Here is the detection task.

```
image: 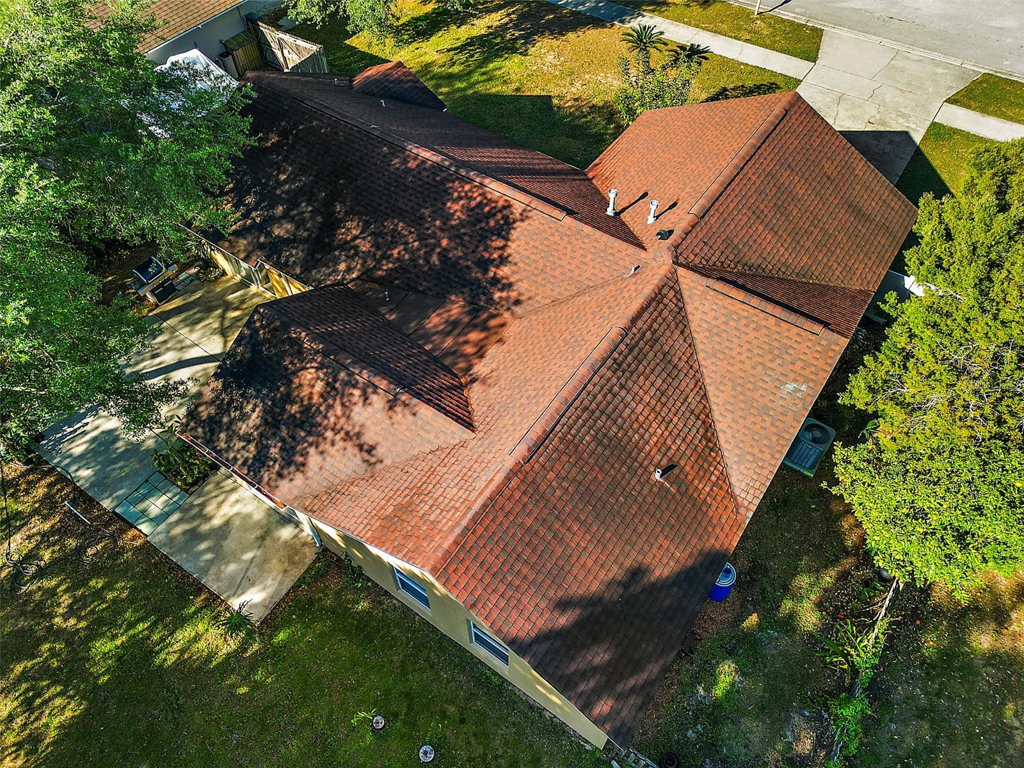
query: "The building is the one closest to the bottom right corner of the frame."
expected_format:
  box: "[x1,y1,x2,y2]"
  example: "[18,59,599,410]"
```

[157,59,916,749]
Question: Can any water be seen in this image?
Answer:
No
